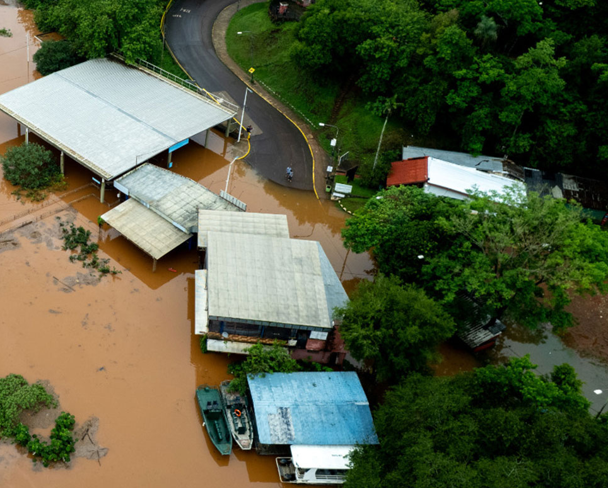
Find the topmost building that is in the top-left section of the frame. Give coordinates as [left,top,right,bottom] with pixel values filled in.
[0,58,237,204]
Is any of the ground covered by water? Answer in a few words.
Yes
